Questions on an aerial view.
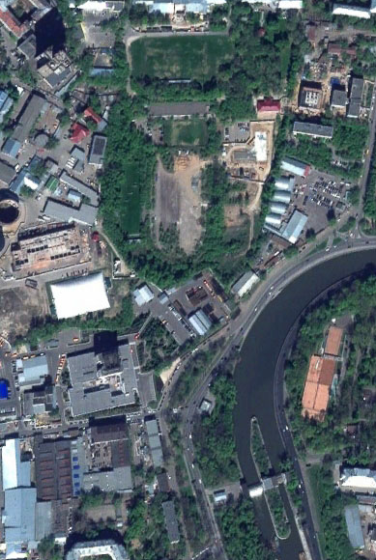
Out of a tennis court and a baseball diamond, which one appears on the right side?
tennis court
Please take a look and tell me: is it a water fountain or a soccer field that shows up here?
soccer field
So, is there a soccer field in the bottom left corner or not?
No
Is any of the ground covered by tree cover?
Yes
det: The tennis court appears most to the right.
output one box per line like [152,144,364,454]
[324,326,344,357]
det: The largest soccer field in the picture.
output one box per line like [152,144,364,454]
[128,30,236,82]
